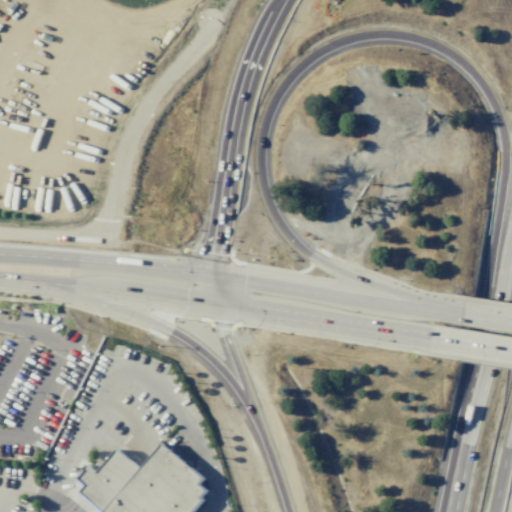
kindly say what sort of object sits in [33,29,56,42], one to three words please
vehicle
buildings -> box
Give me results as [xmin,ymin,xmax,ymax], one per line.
[77,444,208,512]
